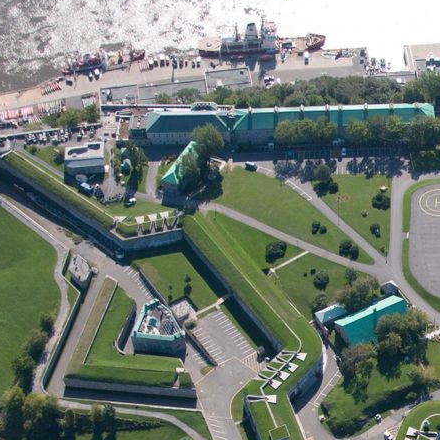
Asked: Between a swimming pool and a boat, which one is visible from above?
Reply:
boat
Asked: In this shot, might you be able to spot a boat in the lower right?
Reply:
No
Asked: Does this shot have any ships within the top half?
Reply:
Yes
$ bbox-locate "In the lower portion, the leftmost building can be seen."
[70,254,94,289]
